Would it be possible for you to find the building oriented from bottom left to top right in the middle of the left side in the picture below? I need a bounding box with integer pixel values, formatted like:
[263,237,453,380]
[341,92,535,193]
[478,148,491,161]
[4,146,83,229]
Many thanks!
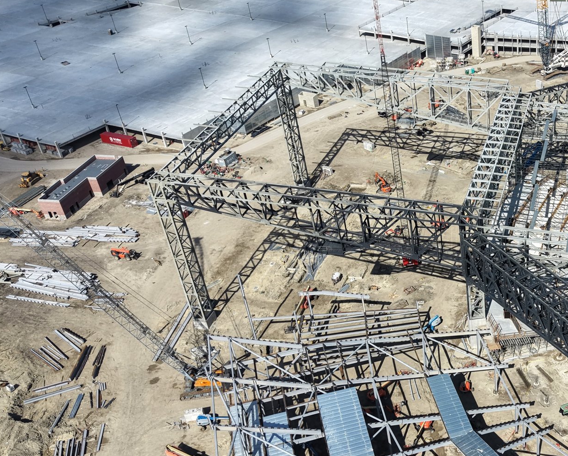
[36,153,130,218]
